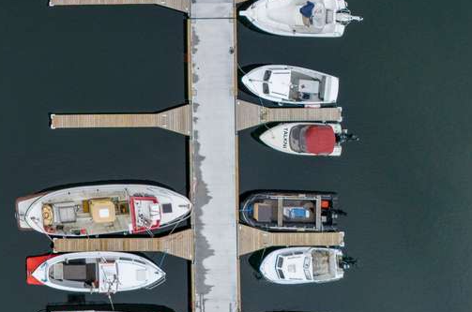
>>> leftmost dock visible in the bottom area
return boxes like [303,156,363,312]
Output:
[52,223,193,266]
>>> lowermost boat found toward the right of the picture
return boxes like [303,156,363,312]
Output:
[259,245,358,283]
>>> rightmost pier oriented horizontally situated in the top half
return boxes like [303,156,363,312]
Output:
[237,93,342,136]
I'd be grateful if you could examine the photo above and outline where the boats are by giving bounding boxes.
[241,191,342,231]
[26,252,168,309]
[241,65,339,105]
[259,245,358,283]
[239,0,364,37]
[14,185,195,238]
[259,122,360,156]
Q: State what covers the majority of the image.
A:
water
